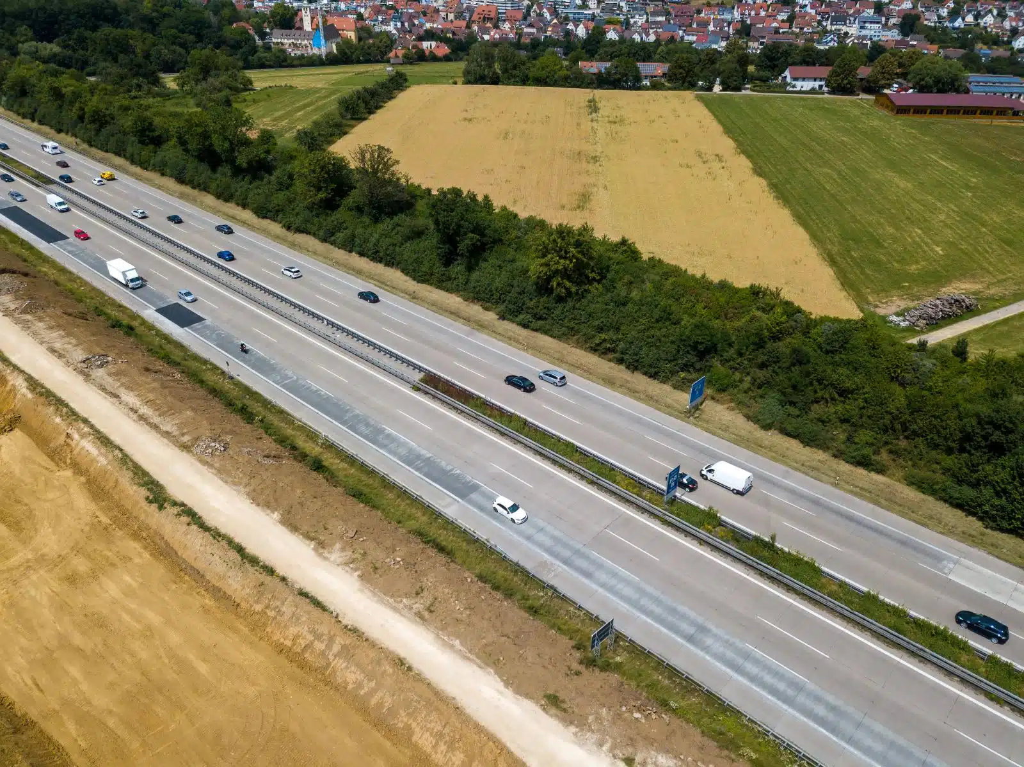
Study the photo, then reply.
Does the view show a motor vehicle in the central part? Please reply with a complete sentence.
Yes, there is a motor vehicle in the central part.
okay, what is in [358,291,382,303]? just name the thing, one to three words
vehicle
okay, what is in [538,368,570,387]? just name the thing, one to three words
car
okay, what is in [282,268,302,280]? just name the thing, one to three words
vehicle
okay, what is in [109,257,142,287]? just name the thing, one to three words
truck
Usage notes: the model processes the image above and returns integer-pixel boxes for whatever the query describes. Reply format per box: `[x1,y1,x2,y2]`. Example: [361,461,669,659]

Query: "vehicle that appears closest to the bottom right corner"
[954,608,1014,646]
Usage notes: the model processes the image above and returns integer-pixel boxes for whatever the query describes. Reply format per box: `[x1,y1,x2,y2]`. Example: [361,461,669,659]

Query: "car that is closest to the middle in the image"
[506,375,538,394]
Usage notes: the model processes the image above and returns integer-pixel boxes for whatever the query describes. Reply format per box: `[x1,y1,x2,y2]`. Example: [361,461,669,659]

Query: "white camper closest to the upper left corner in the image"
[43,142,62,155]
